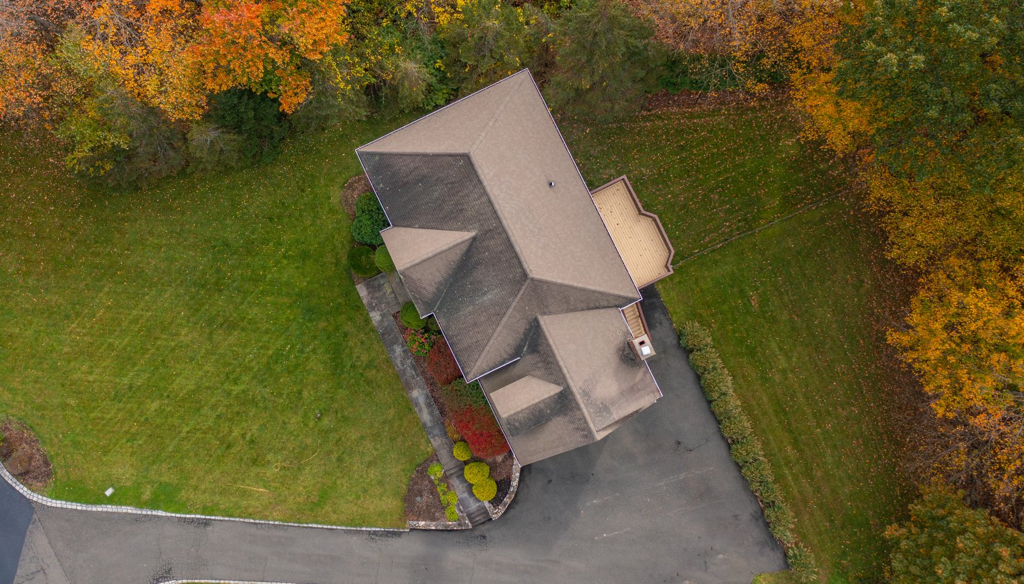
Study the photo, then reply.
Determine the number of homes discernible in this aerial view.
1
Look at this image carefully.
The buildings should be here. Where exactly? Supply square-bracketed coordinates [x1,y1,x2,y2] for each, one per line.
[354,66,663,466]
